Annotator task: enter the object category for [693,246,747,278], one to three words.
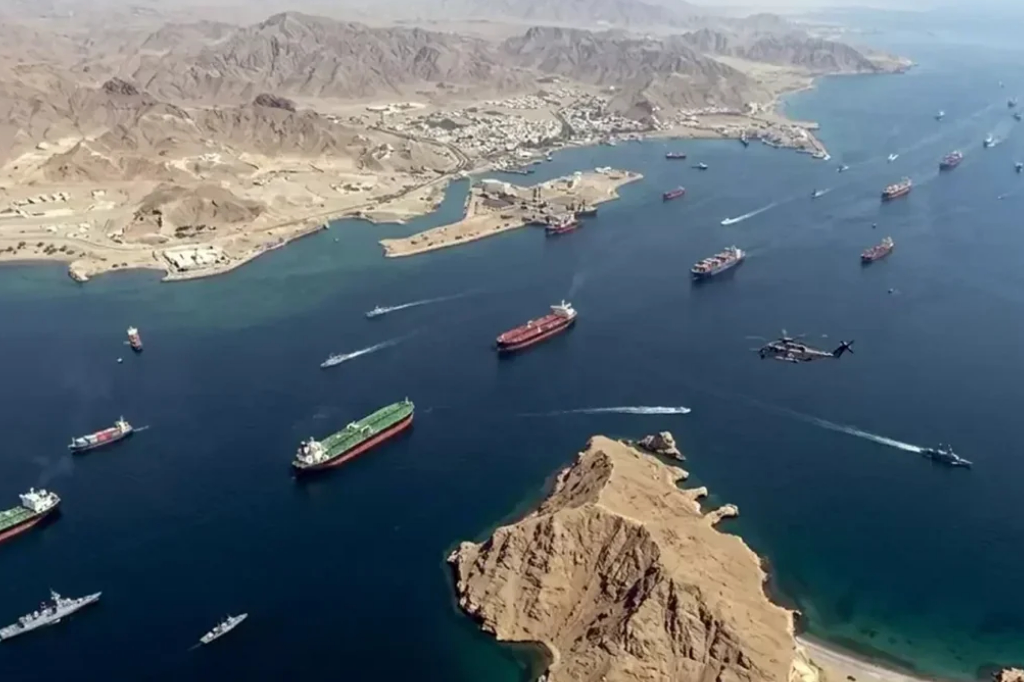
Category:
ship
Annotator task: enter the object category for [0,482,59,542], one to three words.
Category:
ship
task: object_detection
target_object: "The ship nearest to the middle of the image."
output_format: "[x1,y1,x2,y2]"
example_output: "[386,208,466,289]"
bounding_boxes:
[498,305,578,347]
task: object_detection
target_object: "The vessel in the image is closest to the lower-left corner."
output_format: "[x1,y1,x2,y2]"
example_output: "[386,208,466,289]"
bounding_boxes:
[0,591,98,640]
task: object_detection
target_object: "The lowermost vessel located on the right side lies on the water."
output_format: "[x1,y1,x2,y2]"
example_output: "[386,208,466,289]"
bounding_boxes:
[921,449,970,467]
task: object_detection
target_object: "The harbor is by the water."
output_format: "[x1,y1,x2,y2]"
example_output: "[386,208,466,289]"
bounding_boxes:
[380,170,643,257]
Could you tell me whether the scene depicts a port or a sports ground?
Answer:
port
